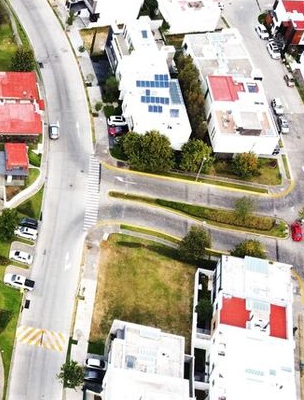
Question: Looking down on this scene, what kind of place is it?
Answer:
residential area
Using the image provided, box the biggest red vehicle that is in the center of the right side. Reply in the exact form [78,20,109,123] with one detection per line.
[290,222,302,241]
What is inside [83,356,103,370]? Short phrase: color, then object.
white vehicle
